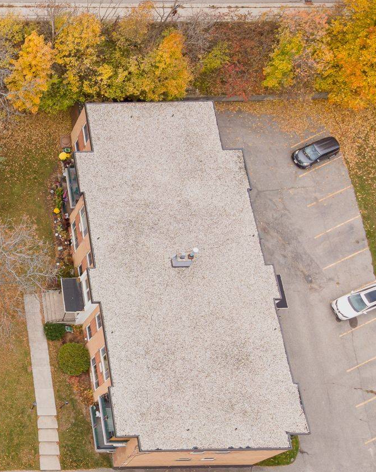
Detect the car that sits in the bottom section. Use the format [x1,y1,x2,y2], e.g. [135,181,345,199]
[331,283,376,321]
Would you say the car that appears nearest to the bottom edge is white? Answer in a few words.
Yes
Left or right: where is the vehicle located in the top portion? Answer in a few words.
right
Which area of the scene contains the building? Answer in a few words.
center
